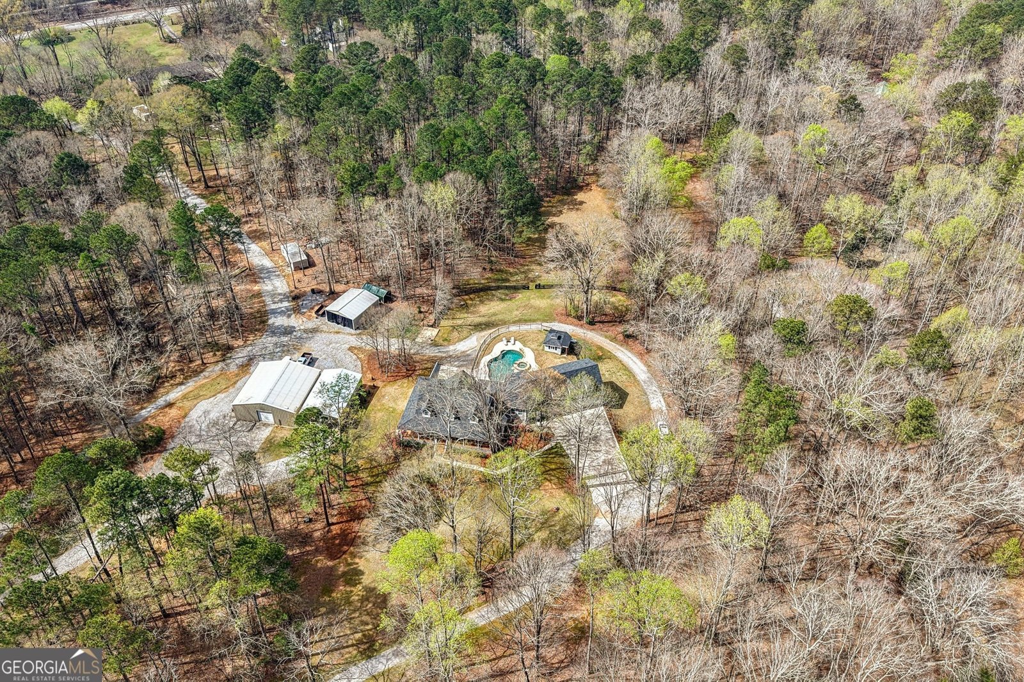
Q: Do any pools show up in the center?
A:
Yes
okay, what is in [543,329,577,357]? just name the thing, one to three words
building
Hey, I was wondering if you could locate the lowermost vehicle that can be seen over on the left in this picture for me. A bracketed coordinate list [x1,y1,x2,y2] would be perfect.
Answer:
[298,348,318,366]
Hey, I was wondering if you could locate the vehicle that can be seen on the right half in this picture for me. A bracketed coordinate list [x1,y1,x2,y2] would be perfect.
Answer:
[656,419,672,439]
